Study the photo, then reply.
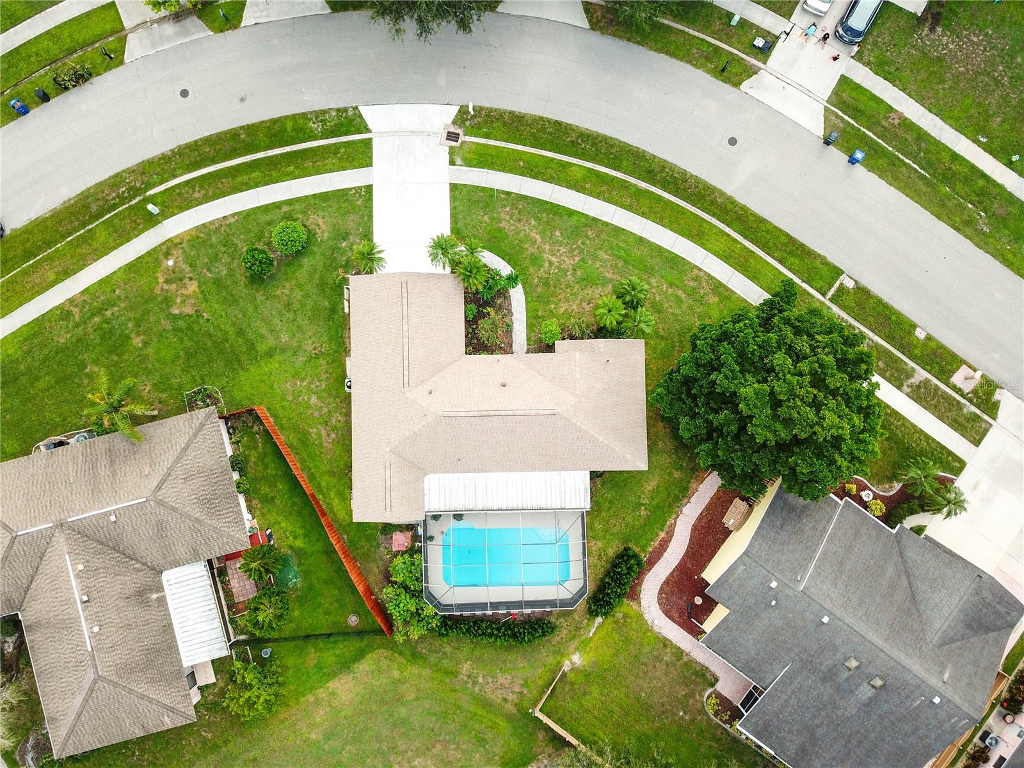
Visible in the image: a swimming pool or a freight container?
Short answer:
swimming pool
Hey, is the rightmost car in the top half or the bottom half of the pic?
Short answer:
top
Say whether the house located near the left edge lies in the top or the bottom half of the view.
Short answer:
bottom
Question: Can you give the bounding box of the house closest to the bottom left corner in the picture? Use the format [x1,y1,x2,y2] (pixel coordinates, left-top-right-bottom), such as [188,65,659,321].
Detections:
[0,405,255,759]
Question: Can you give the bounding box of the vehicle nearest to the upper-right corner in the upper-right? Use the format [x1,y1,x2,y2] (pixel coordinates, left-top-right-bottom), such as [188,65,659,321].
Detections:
[836,0,888,48]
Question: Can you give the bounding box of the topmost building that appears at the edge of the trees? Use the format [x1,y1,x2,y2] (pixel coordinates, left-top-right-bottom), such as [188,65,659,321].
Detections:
[349,273,649,523]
